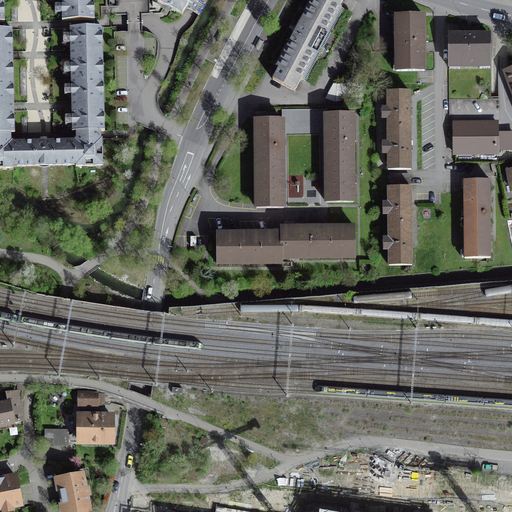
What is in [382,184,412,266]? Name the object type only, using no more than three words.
building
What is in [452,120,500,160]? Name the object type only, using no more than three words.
house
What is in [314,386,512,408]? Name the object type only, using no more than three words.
train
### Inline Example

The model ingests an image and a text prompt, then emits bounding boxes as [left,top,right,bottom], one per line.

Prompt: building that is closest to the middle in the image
[216,228,281,266]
